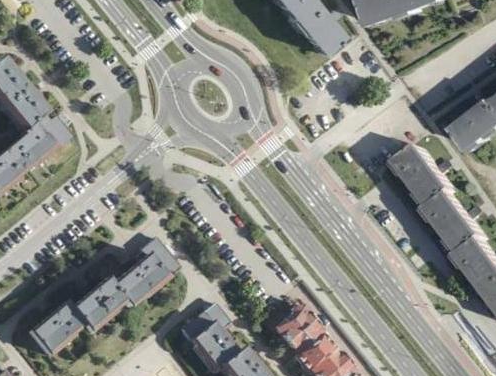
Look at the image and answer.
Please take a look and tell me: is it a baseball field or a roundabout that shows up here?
roundabout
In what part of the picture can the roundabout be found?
top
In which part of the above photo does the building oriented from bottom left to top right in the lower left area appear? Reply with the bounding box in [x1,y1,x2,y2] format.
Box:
[29,239,181,363]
